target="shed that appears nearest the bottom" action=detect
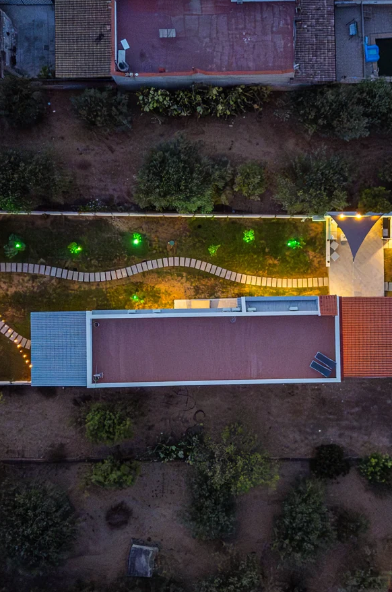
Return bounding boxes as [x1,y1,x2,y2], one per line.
[129,537,159,577]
